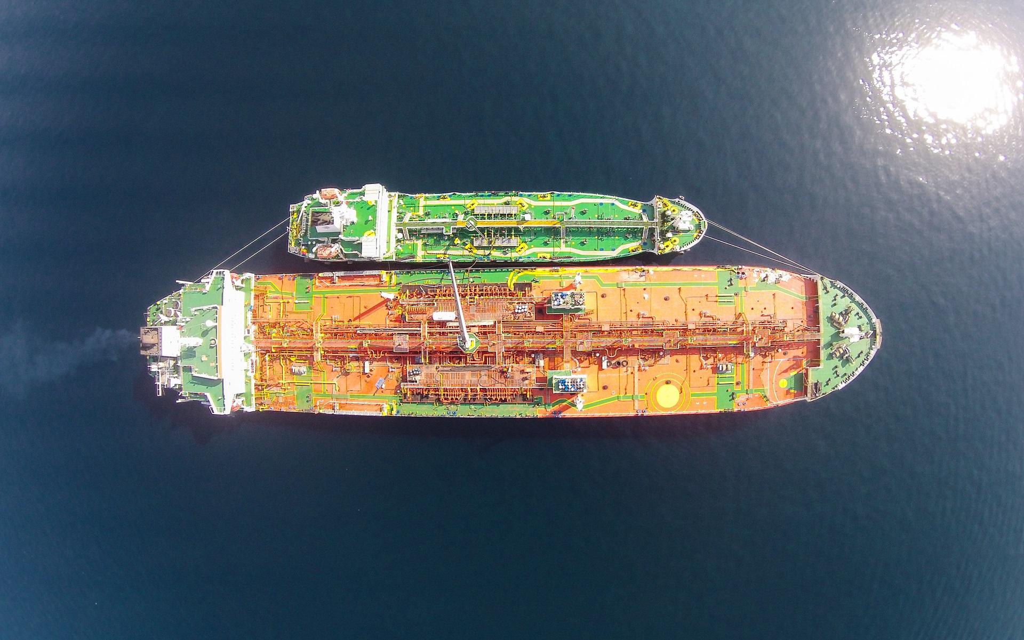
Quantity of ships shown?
2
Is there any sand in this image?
No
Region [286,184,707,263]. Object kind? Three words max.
ship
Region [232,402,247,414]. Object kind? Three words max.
boat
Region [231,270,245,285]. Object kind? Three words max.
boat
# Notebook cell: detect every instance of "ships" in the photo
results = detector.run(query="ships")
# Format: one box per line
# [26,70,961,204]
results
[138,259,883,417]
[286,184,707,263]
